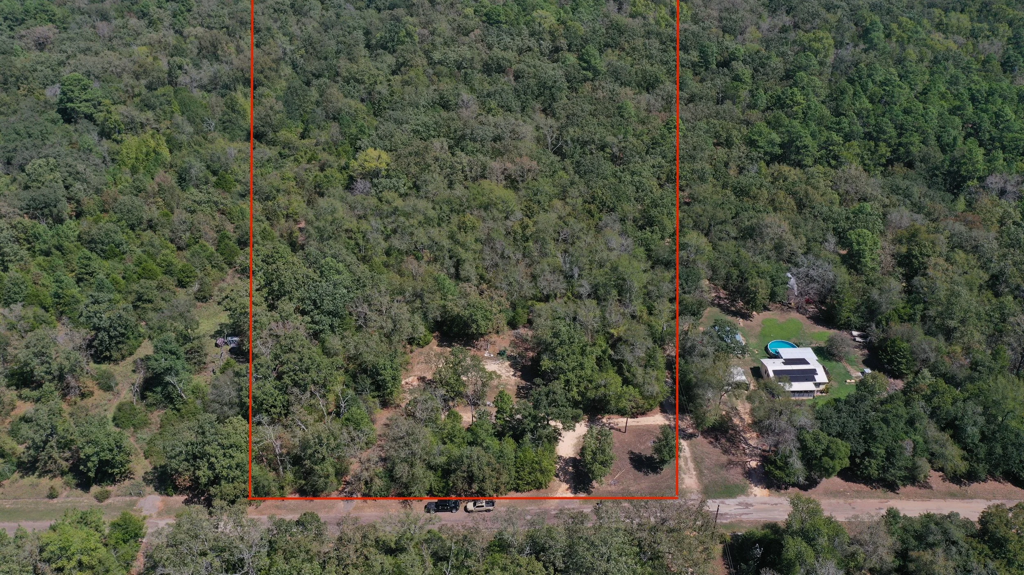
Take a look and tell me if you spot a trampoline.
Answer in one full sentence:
No, the picture doesn't show any trampoline.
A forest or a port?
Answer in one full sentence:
The picture captures a forest.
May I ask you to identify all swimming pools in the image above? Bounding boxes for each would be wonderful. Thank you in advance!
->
[765,340,796,359]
